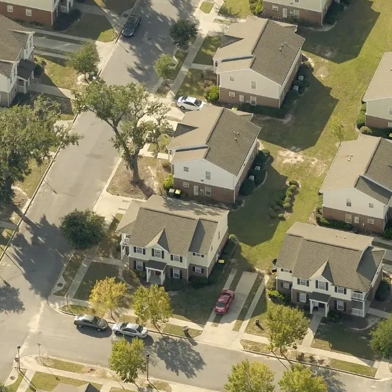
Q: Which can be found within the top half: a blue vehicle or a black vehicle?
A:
black vehicle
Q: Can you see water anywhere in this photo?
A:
No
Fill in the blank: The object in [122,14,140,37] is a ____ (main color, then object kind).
black car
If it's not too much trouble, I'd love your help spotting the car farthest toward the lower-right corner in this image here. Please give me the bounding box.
[215,291,235,315]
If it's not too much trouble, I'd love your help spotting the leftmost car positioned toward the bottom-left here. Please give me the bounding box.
[74,315,108,333]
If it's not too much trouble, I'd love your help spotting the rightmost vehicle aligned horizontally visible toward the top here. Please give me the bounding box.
[173,95,208,112]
